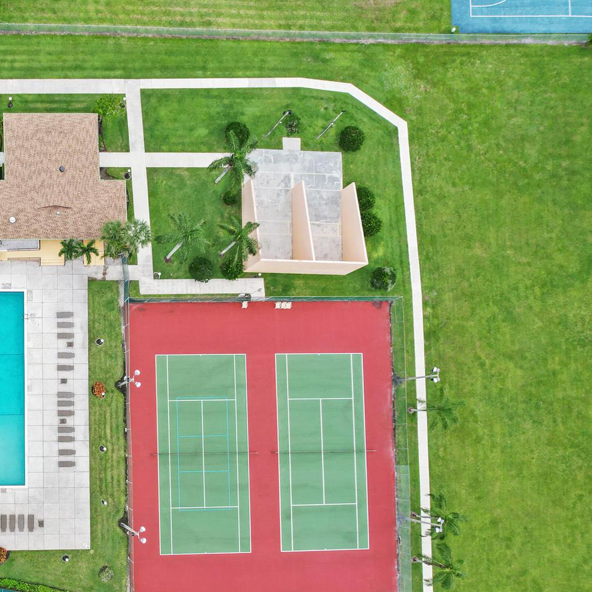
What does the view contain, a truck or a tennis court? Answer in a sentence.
There is a tennis court in the scene.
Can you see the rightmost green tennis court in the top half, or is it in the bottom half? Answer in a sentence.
The rightmost green tennis court is in the bottom half of the image.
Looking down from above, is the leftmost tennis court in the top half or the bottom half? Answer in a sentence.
You can find the leftmost tennis court in the bottom half.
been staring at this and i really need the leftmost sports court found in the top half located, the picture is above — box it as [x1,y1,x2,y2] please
[243,149,367,275]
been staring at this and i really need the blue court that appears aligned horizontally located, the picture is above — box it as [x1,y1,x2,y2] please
[452,0,592,34]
